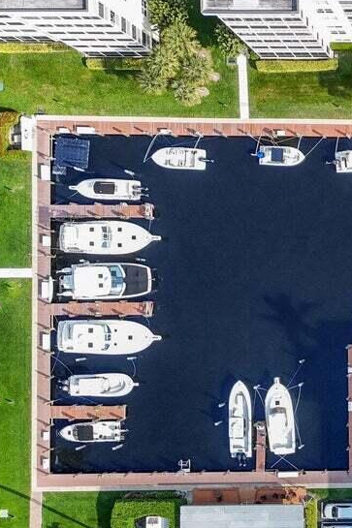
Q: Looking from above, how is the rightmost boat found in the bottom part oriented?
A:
up and down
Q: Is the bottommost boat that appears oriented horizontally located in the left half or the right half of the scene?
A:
left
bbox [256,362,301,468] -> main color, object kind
white boat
